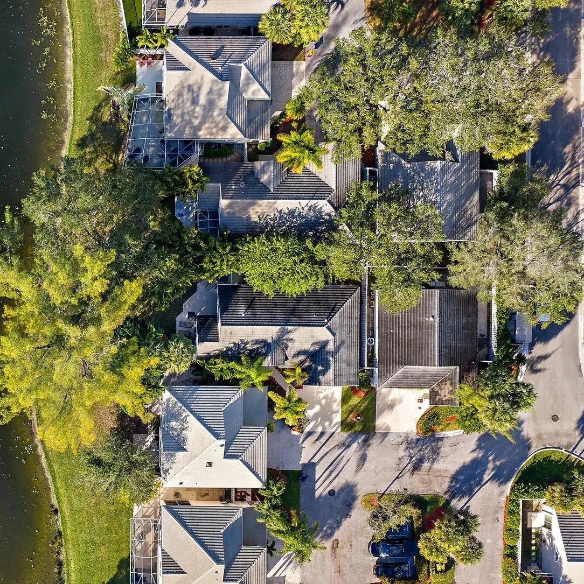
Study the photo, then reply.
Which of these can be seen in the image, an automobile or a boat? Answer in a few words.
automobile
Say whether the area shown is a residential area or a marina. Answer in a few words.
residential area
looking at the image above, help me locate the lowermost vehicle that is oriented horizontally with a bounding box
[374,562,412,581]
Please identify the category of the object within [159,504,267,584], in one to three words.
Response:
house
